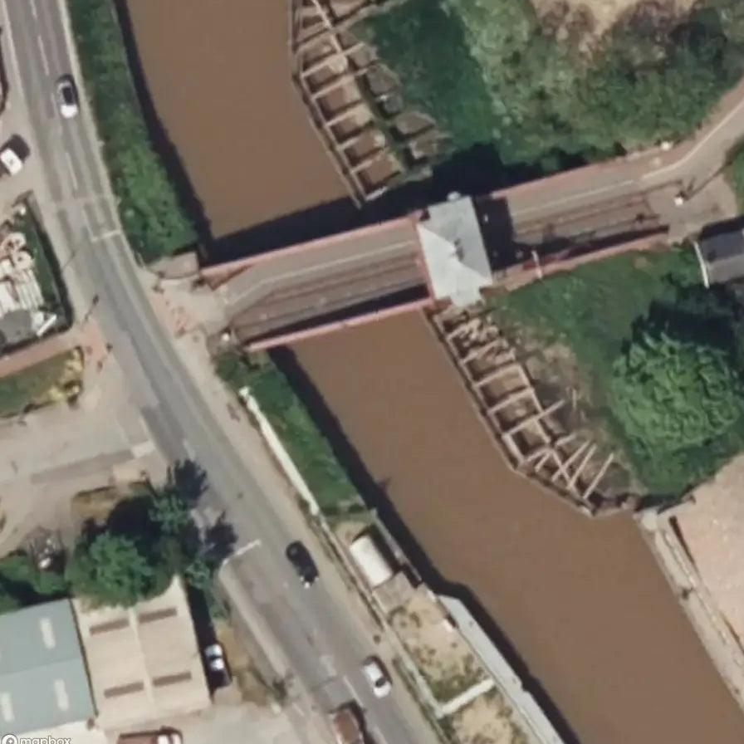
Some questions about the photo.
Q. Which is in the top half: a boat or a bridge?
bridge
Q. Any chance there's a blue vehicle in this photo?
No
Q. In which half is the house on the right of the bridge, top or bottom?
top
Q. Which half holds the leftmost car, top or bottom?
top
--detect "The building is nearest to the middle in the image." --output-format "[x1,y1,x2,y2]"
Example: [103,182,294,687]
[349,535,393,587]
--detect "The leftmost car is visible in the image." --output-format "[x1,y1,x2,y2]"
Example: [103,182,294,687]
[55,76,77,120]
